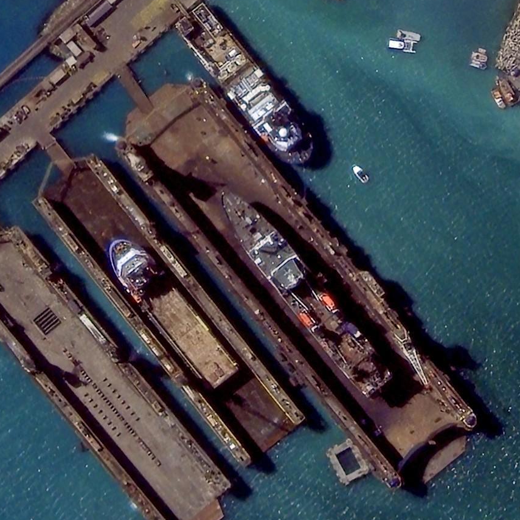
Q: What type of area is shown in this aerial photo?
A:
port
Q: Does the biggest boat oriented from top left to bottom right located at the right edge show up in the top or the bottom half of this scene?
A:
top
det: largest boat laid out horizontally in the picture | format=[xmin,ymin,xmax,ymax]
[388,39,416,54]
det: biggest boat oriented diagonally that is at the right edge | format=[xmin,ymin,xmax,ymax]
[496,79,519,105]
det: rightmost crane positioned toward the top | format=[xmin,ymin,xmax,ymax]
[125,152,160,186]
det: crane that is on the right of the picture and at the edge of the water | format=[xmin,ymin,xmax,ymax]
[388,318,429,387]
